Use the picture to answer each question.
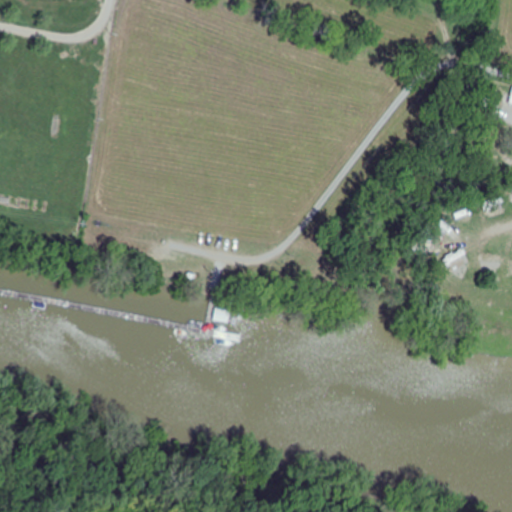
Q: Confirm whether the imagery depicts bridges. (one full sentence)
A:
No, there's no bridge here.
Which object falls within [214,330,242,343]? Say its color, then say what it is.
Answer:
white ship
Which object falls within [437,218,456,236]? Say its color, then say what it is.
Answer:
white vehicle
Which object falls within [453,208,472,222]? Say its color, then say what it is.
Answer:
white vehicle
